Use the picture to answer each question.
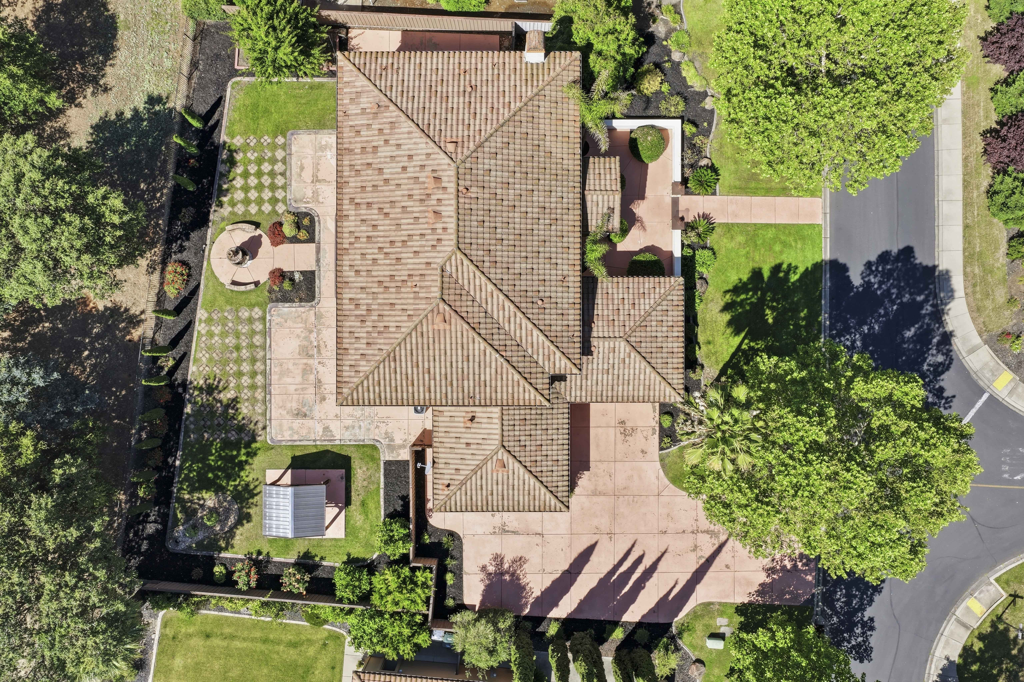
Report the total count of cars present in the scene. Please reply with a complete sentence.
The count of cars is 0.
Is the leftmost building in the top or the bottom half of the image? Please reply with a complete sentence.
It is in the bottom half that the leftmost building appears.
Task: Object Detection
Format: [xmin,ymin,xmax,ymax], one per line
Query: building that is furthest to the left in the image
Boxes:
[263,482,330,538]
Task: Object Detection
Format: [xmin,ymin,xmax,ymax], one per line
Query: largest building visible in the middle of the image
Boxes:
[334,31,686,515]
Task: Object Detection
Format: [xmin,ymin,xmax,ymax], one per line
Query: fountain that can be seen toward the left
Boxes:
[227,247,253,267]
